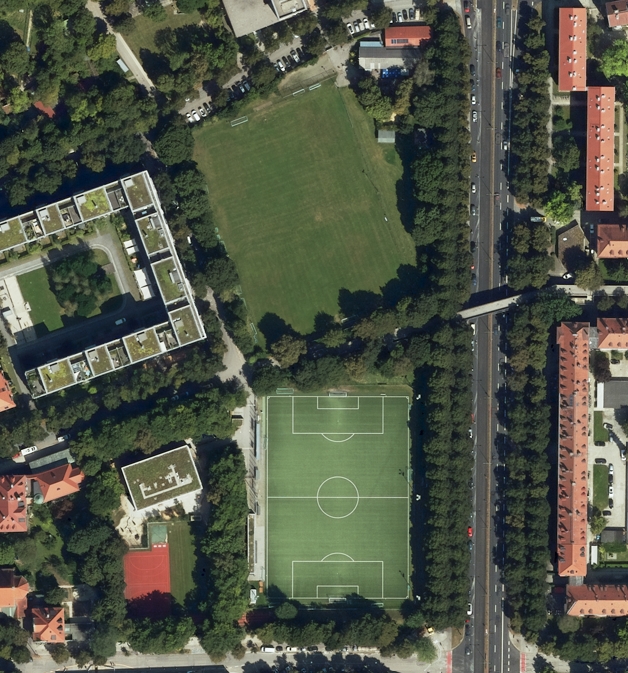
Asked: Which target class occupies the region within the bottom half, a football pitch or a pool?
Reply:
football pitch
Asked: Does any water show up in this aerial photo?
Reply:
No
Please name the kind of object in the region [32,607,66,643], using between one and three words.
house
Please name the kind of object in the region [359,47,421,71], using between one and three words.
shed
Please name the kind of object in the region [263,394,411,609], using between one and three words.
soccer field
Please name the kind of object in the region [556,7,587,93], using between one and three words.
building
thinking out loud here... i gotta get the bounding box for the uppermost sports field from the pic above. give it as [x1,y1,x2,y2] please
[186,79,420,350]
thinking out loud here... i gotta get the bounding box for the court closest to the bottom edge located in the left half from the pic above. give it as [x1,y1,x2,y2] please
[124,544,170,625]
